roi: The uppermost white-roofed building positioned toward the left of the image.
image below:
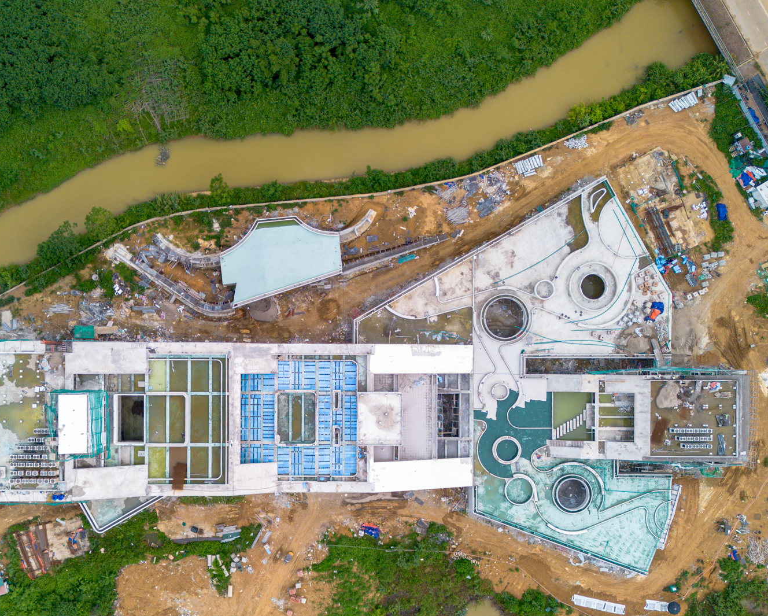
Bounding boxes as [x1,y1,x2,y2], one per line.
[220,217,343,309]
